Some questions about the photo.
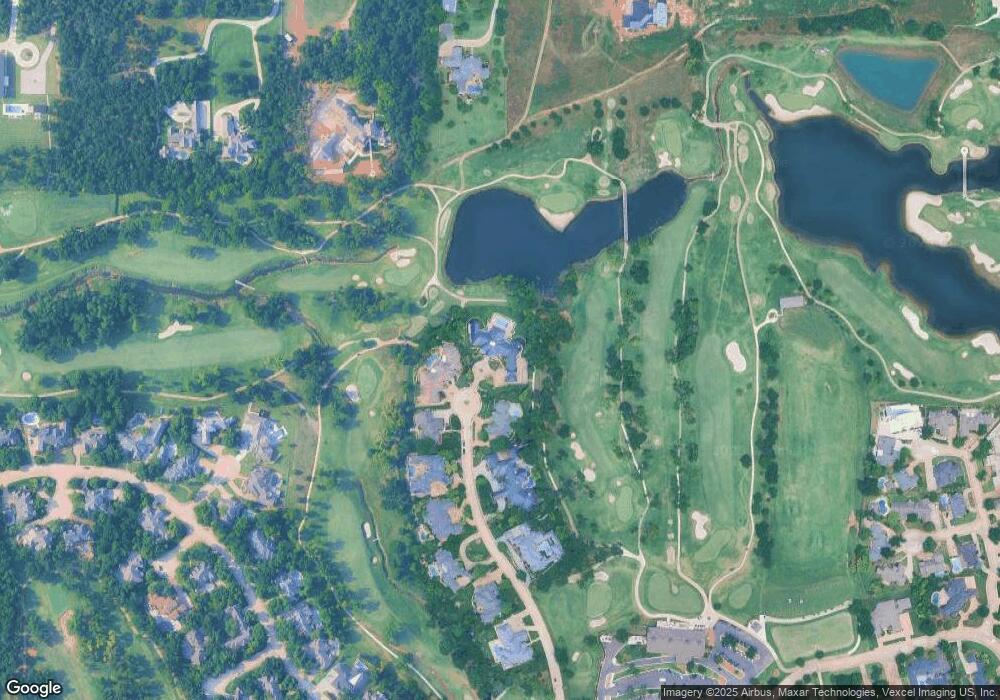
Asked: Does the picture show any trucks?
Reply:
No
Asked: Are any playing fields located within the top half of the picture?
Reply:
No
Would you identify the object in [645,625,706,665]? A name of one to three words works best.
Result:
building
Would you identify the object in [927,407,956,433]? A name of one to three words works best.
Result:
house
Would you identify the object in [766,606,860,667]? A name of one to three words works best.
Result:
sports field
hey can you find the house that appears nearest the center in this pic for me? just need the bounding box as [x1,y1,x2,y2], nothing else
[469,318,526,384]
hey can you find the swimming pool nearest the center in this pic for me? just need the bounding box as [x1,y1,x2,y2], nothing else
[493,313,512,332]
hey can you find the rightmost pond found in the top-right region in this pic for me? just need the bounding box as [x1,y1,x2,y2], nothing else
[838,49,942,110]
